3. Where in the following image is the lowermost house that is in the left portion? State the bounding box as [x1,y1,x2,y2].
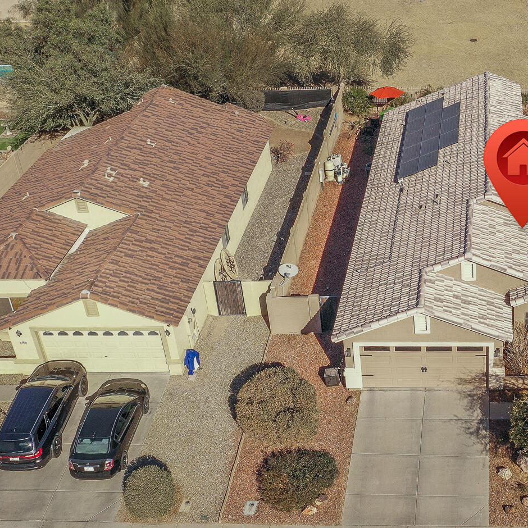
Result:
[0,81,274,376]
